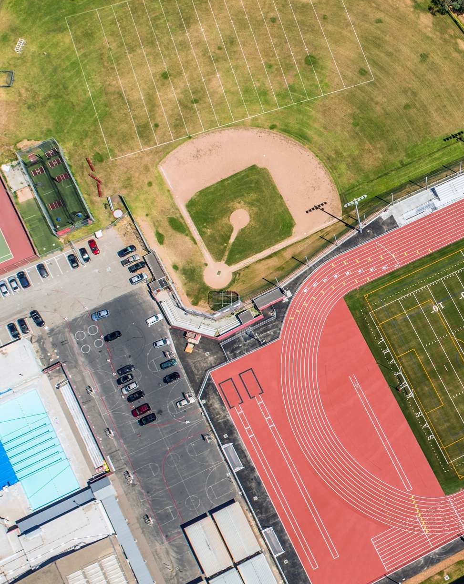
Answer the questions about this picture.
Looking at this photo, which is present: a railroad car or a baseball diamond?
baseball diamond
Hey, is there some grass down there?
Yes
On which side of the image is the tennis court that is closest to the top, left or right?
left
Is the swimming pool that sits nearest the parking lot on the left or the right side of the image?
left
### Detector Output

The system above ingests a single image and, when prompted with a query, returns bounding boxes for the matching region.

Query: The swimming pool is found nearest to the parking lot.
[0,389,81,512]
